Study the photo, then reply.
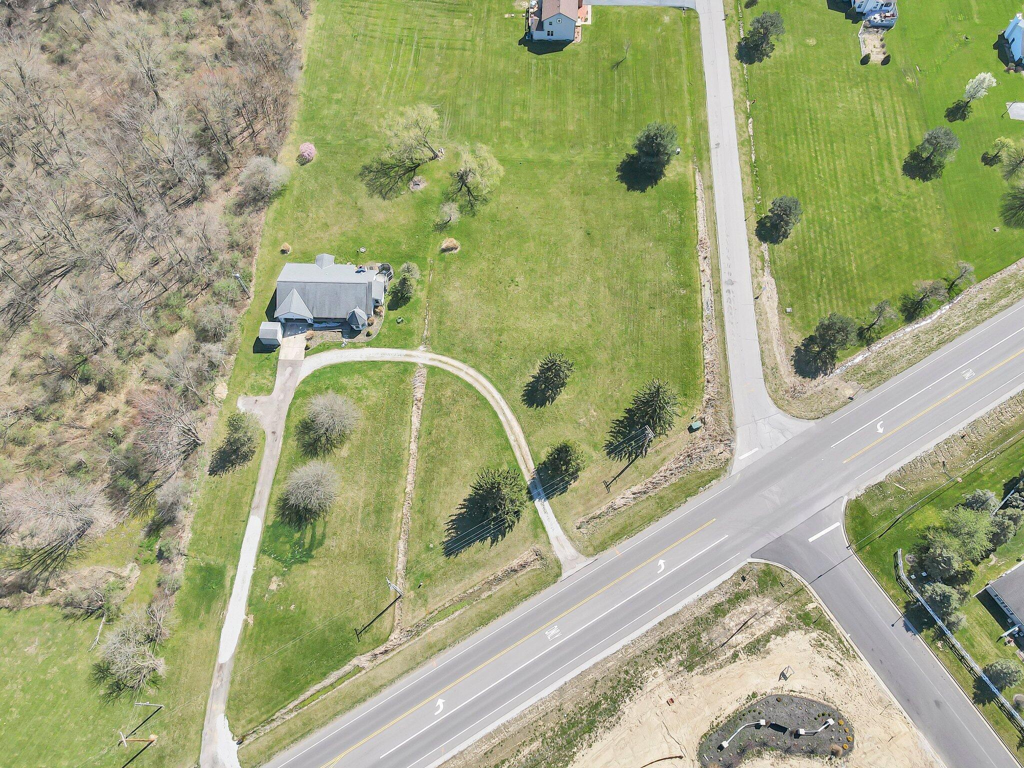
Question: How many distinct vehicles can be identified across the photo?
zero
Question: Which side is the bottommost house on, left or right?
right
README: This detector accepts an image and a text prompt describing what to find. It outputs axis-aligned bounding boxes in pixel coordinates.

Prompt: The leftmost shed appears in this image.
[258,321,284,345]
